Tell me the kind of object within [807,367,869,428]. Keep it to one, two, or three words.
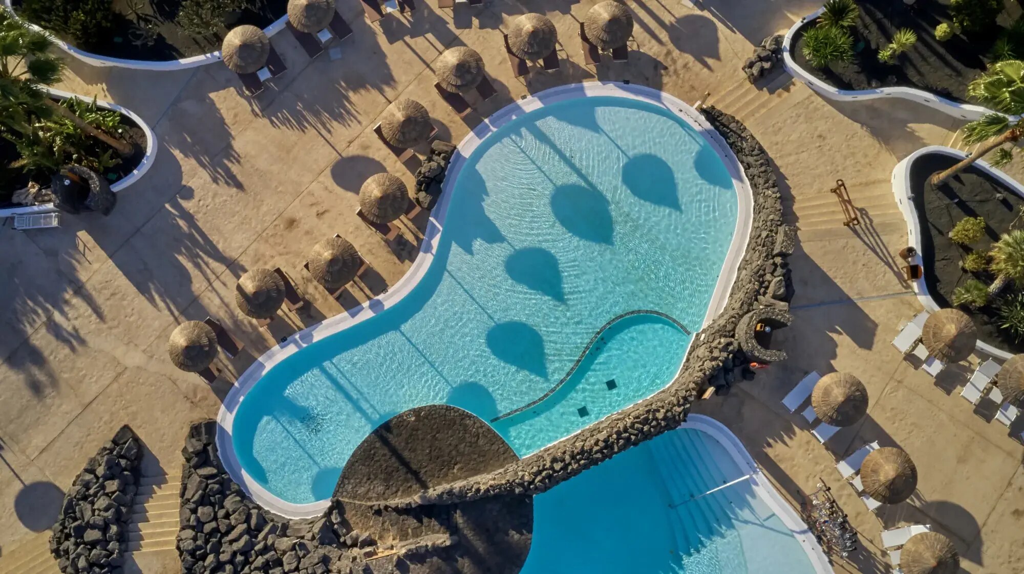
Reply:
umbrella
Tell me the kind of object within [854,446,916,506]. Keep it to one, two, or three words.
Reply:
umbrella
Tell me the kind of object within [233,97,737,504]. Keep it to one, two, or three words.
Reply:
swimming pool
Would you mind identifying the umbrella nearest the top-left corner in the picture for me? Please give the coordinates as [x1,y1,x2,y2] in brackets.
[220,23,274,76]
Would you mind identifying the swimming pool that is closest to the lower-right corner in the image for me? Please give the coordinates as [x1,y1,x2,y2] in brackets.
[520,425,816,574]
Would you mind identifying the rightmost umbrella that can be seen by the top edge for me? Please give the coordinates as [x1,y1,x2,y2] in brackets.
[582,0,636,51]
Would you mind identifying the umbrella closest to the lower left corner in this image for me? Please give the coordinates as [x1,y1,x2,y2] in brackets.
[166,319,220,372]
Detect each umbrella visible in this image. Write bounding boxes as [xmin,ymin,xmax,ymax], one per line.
[897,523,959,574]
[310,235,364,289]
[166,319,220,372]
[379,98,434,152]
[986,349,1024,410]
[220,23,274,76]
[854,446,916,506]
[286,0,340,36]
[916,305,977,365]
[807,367,869,428]
[358,171,412,225]
[435,44,488,97]
[582,0,636,51]
[235,267,290,321]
